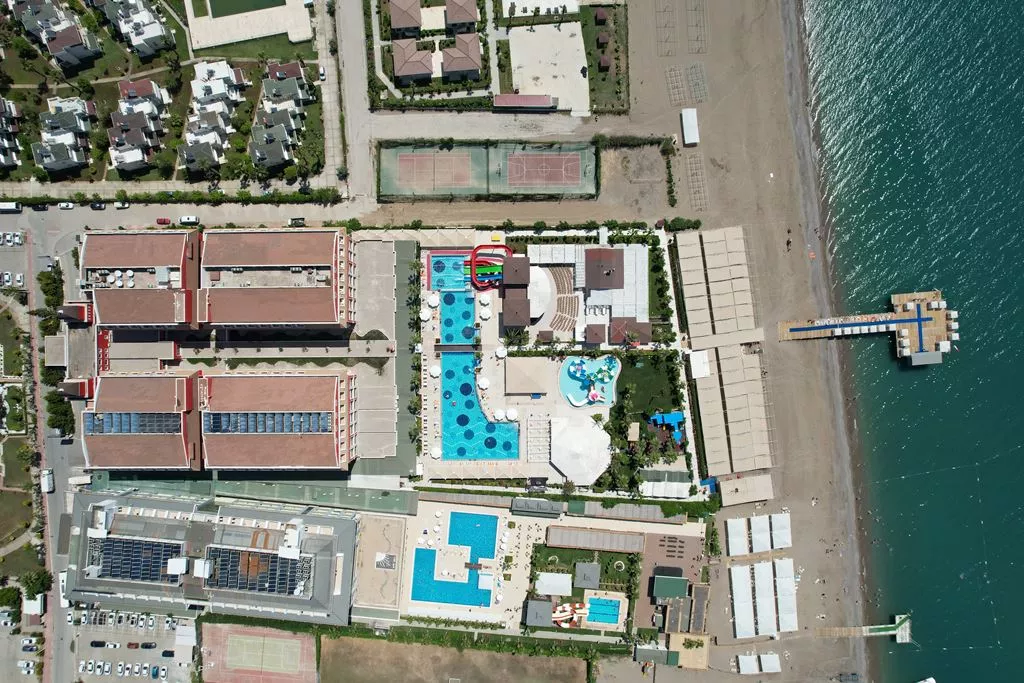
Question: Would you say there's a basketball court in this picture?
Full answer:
Yes, a basketball court can be made out from above.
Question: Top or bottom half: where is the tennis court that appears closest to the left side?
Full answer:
The tennis court that appears closest to the left side sits in the bottom half of the picture.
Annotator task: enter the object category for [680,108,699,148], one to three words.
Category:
shed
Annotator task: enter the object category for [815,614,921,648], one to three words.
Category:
pier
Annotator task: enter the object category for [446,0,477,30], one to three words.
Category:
house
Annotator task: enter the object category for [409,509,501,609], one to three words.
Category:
swimming pool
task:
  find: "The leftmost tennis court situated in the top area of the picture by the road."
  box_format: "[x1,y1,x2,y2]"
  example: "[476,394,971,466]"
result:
[381,147,487,195]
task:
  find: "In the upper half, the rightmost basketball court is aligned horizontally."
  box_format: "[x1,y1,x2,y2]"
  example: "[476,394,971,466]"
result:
[488,147,596,195]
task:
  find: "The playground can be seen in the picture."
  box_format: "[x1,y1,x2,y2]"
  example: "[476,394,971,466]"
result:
[651,411,684,451]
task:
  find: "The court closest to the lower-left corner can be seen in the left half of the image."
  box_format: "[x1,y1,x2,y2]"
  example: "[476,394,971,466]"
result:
[202,624,317,683]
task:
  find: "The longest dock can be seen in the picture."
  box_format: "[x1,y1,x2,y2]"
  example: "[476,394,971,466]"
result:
[779,291,949,357]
